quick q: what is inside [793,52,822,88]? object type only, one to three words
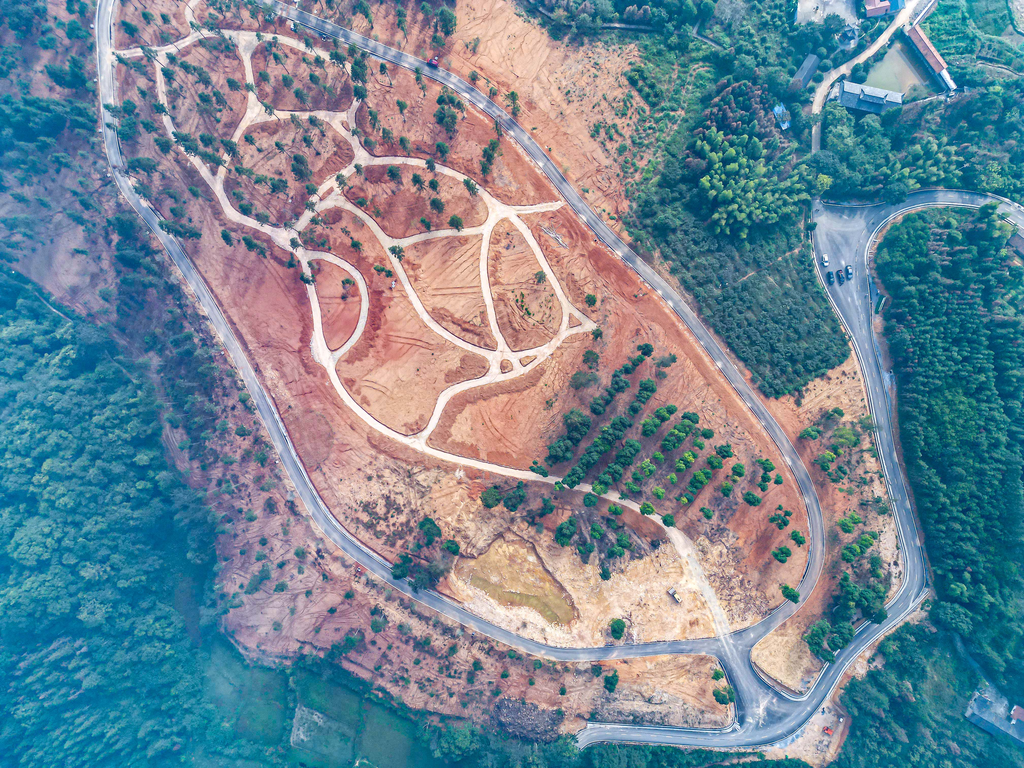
shed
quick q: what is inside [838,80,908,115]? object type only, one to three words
building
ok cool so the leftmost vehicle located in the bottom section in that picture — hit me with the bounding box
[669,588,683,604]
